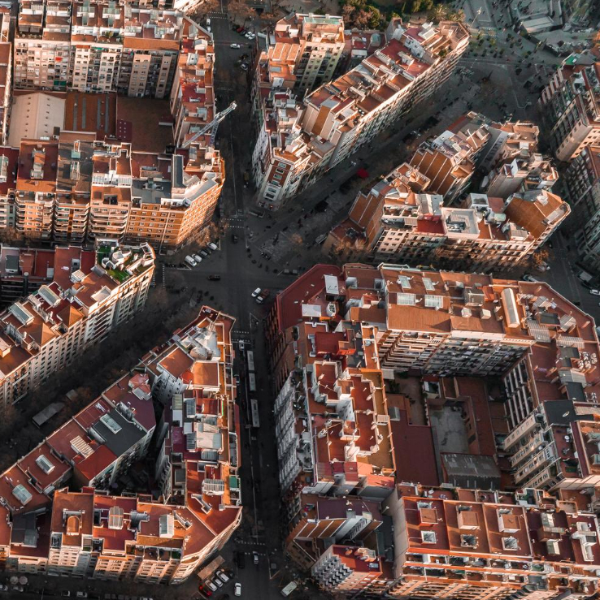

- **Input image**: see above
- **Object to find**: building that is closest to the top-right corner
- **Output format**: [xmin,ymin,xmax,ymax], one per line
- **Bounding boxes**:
[518,14,556,39]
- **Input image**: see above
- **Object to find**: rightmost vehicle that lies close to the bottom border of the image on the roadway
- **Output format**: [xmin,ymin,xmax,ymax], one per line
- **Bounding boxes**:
[282,581,295,596]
